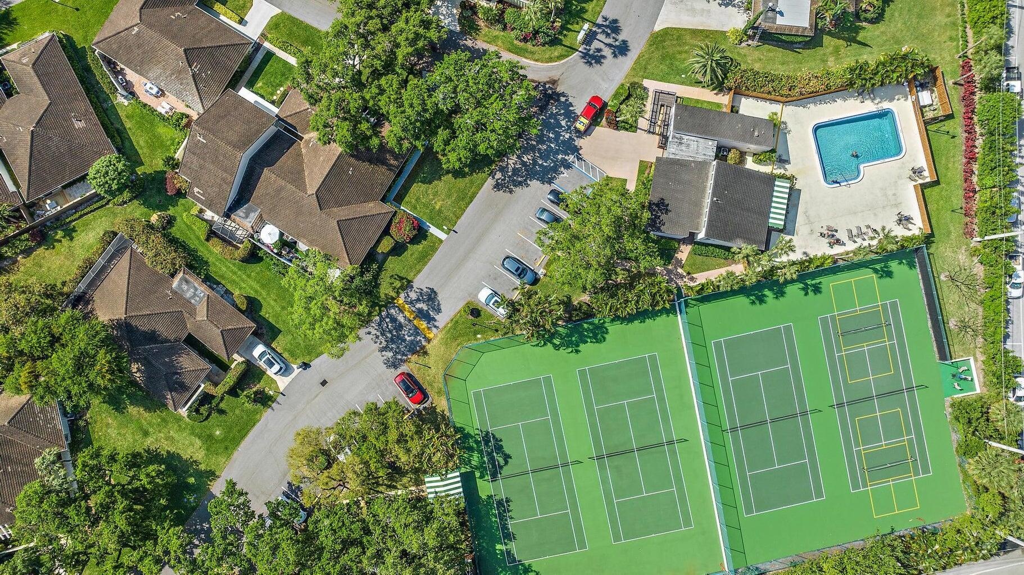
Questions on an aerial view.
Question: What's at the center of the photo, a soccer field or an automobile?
automobile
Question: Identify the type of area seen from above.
residential area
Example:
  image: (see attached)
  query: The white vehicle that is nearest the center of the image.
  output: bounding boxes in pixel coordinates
[477,289,509,320]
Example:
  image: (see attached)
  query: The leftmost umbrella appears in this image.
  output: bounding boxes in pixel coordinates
[261,224,281,244]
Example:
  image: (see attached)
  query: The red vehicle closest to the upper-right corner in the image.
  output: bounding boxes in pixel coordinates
[575,93,602,135]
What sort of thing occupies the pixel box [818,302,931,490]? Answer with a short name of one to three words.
tennis court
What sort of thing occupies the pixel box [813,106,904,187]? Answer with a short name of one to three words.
swimming pool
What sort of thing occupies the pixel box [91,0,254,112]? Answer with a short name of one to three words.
house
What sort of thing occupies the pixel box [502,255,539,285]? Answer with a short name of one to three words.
car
